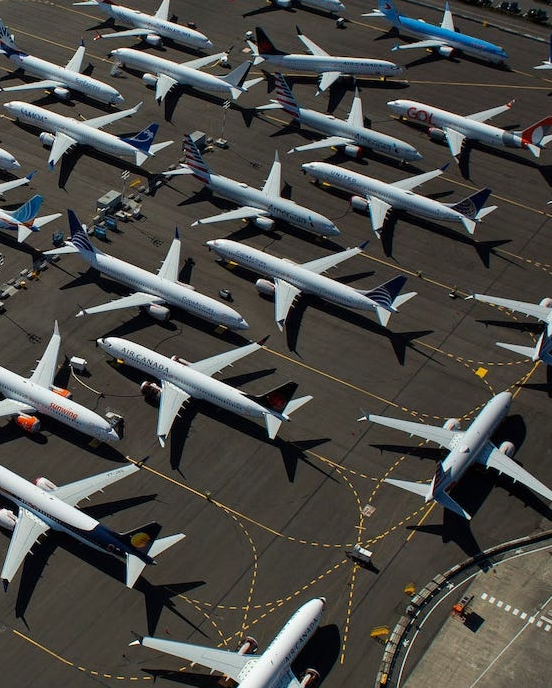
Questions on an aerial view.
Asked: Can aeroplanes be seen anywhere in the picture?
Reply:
Yes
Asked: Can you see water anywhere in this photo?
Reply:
No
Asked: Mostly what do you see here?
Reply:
paved ground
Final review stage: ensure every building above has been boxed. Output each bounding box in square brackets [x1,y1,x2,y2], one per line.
[189,130,205,148]
[95,190,123,215]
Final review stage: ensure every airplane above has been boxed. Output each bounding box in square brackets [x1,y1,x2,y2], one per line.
[302,161,500,241]
[0,19,124,106]
[386,97,552,162]
[73,0,213,50]
[128,598,328,688]
[360,0,511,61]
[357,391,552,521]
[5,100,174,171]
[110,47,263,106]
[254,70,424,163]
[532,32,552,68]
[42,209,248,332]
[160,132,342,238]
[0,170,62,242]
[97,336,314,447]
[0,322,119,440]
[464,288,552,365]
[245,25,404,96]
[0,458,185,593]
[207,237,418,332]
